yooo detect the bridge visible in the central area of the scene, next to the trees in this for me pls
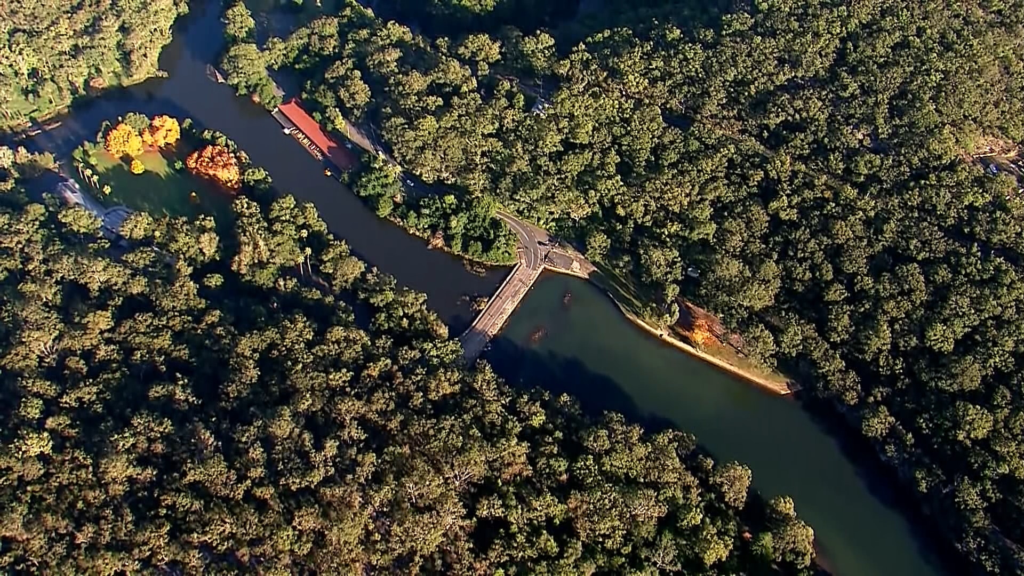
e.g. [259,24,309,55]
[462,245,543,358]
